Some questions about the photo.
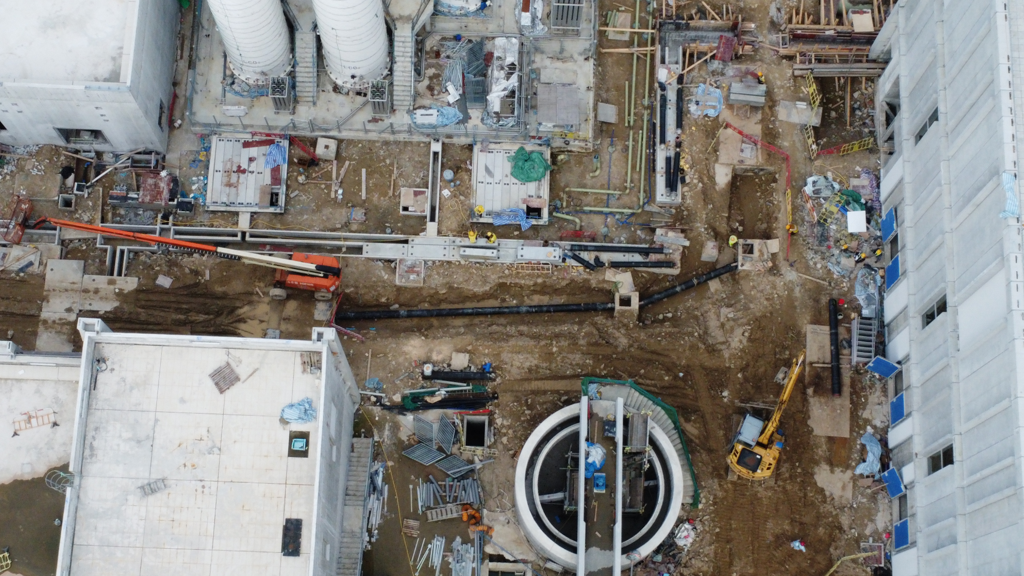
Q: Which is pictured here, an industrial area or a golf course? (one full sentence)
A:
The picture captures an industrial area.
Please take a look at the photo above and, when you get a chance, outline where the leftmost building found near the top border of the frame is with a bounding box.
[0,0,181,154]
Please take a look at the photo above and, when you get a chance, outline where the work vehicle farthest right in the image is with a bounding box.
[727,345,807,481]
